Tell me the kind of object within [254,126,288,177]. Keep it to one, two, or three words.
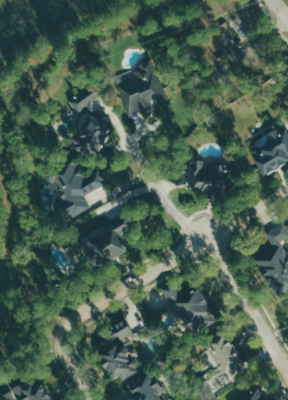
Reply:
house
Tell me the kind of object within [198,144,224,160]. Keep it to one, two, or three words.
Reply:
swimming pool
